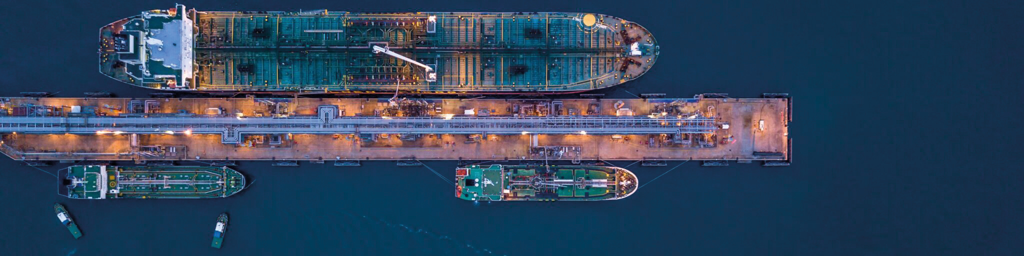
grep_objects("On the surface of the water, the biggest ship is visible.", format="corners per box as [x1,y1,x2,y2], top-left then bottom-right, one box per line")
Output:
[100,4,659,95]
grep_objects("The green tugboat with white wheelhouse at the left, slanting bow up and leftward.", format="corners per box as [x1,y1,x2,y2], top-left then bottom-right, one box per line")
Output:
[53,202,83,240]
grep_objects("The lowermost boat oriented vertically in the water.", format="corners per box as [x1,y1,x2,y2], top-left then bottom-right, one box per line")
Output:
[210,212,227,250]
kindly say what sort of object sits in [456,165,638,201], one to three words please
ship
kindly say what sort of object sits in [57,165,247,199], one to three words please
ship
